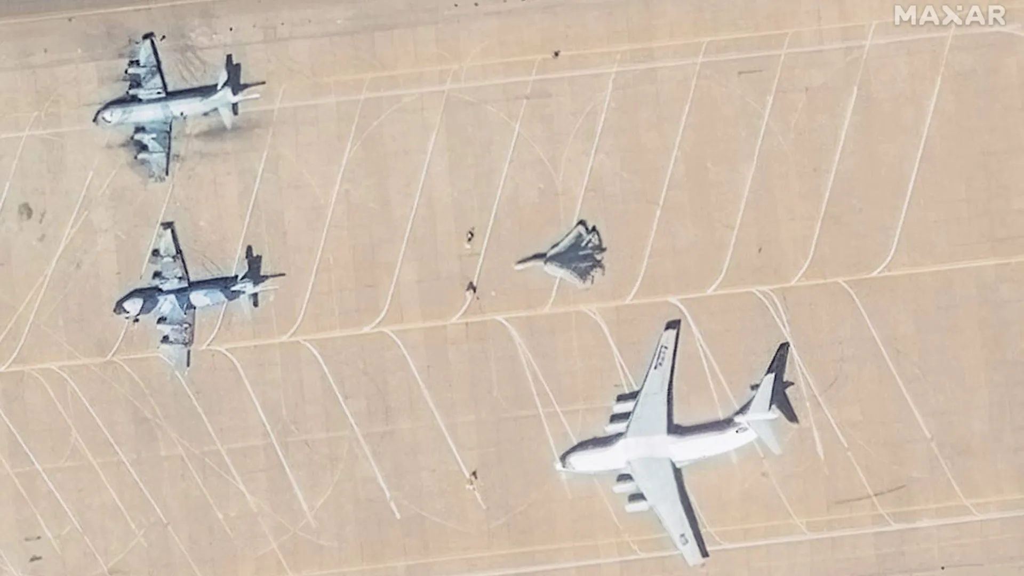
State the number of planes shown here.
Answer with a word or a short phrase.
4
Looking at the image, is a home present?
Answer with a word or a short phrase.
No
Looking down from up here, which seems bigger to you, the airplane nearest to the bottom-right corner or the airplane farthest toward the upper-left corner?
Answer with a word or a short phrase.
the airplane nearest to the bottom-right corner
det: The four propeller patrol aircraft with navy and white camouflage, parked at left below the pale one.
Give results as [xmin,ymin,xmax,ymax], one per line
[118,231,282,374]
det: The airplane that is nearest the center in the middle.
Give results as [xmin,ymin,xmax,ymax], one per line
[514,226,603,286]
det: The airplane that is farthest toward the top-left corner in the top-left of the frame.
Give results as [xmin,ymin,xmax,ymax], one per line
[97,39,261,182]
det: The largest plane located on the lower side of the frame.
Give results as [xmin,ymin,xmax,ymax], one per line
[554,328,785,565]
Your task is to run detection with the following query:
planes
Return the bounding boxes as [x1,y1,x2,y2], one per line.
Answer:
[514,226,603,286]
[97,39,261,182]
[554,328,785,565]
[118,231,282,374]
